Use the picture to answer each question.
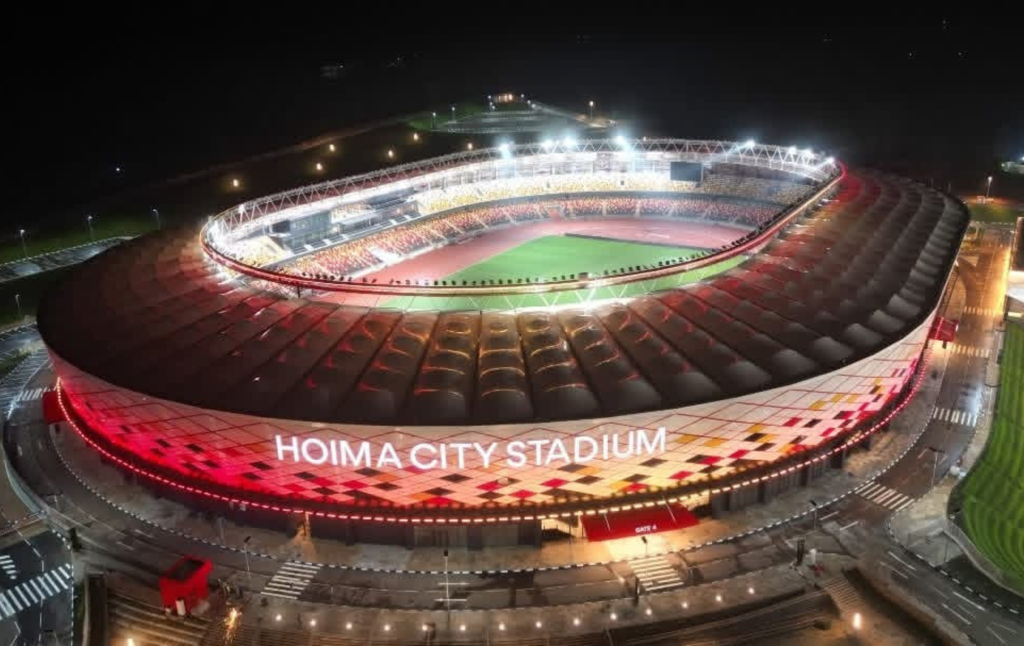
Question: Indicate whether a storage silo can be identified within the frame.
No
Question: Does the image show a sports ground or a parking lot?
sports ground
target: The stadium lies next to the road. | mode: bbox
[28,136,970,551]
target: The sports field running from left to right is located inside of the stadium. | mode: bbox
[379,234,756,318]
